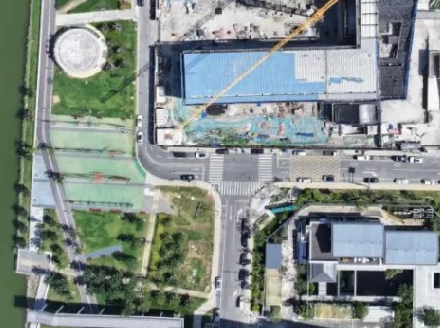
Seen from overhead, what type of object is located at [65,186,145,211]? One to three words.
sports court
